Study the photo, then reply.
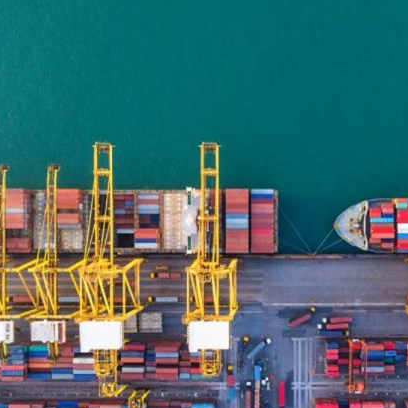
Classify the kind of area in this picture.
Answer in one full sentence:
This image shows a port.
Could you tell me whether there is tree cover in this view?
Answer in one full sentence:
No, tree cover can't be seen anywhere here.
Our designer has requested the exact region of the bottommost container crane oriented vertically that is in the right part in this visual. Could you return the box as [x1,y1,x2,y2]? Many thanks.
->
[341,334,368,397]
